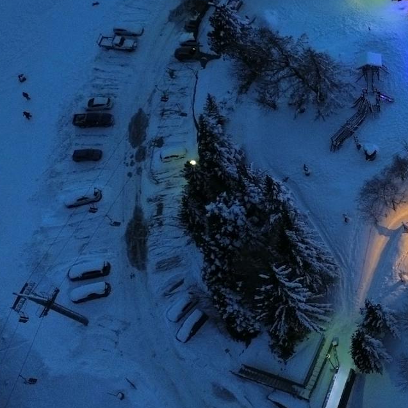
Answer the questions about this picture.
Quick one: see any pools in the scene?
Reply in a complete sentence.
No, I find no pool anywhere in the image.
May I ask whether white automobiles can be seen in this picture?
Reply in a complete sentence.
No, I find no white automobile anywhere in the image.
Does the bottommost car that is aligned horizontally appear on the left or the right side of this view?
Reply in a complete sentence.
The bottommost car that is aligned horizontally sits on the left side.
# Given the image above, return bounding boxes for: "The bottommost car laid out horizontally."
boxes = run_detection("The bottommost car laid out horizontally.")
[63,282,109,305]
